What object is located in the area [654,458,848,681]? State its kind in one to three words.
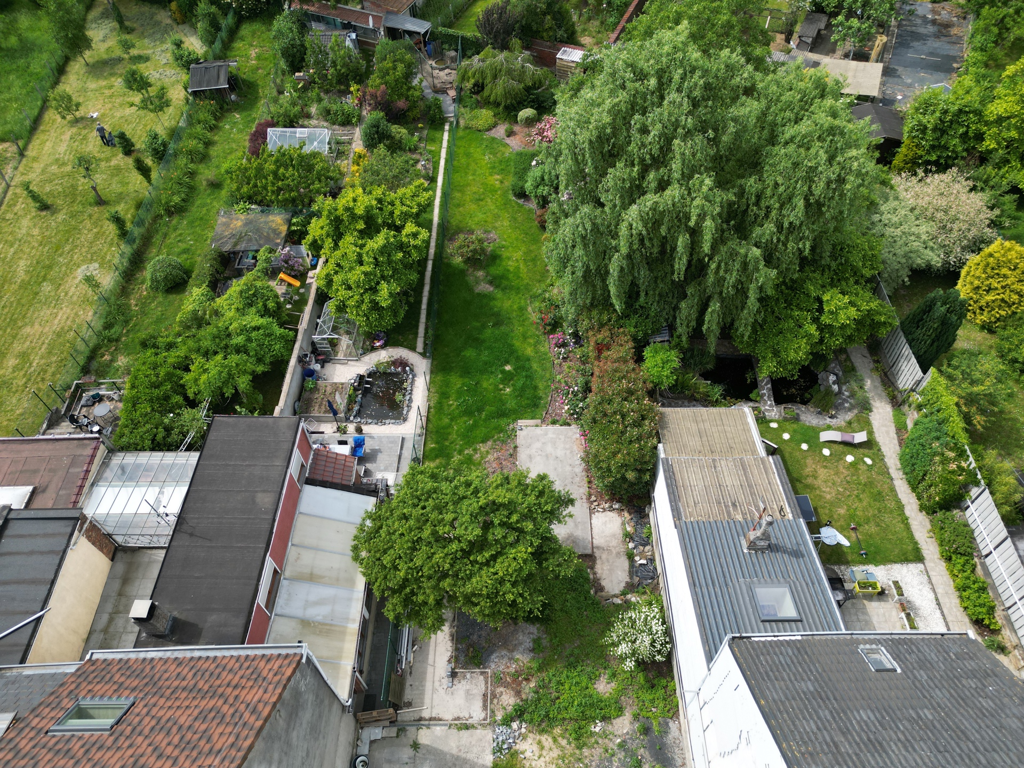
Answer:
shed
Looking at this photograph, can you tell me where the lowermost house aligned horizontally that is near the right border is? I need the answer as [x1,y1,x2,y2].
[680,625,1024,768]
